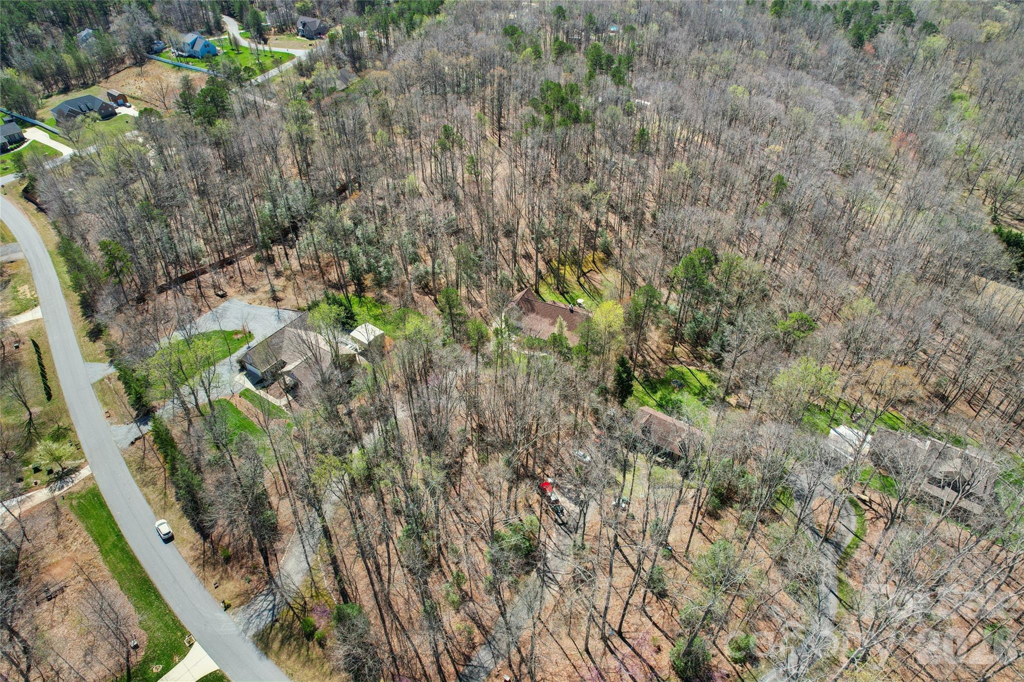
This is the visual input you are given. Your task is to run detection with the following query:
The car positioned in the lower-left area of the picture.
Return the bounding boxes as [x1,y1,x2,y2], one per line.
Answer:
[154,520,171,542]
